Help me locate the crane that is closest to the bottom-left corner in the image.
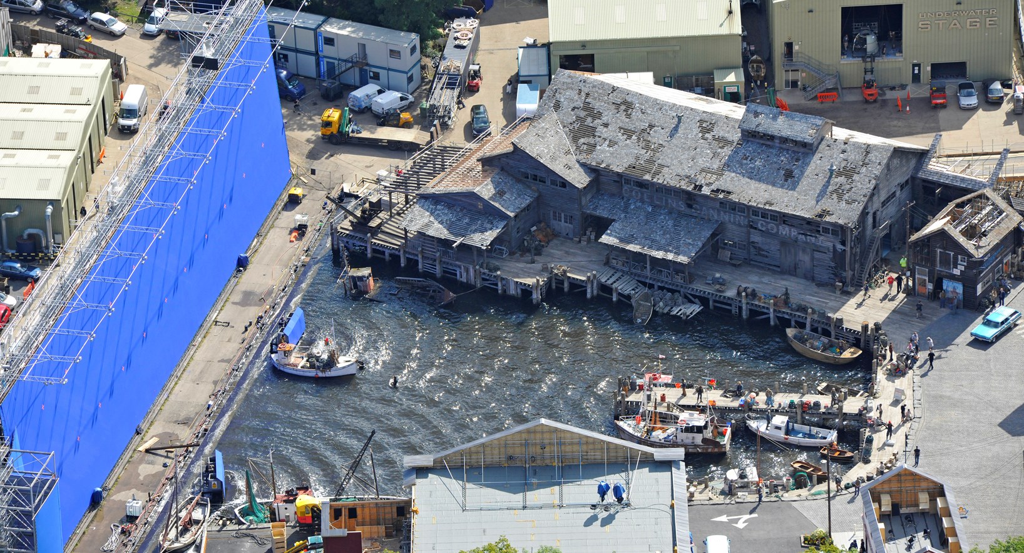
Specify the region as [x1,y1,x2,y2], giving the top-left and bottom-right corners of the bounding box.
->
[292,430,376,537]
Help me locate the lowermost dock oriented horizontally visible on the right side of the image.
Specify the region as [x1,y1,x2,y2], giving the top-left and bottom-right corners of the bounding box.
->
[613,381,869,438]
